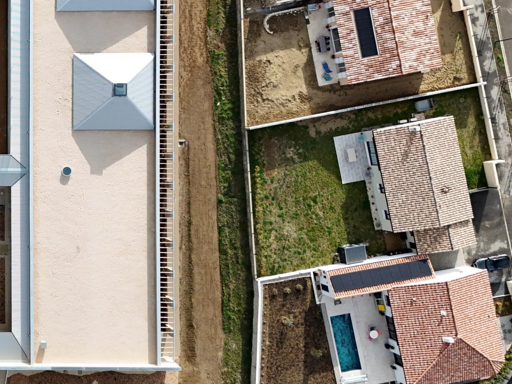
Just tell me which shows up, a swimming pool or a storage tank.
swimming pool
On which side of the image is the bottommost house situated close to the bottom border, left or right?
right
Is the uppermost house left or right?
right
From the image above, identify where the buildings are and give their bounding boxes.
[0,0,181,370]
[319,254,506,384]
[324,0,442,85]
[364,116,477,254]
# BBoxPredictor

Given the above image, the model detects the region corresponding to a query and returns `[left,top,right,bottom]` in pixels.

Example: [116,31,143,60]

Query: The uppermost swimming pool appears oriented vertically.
[326,310,366,377]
